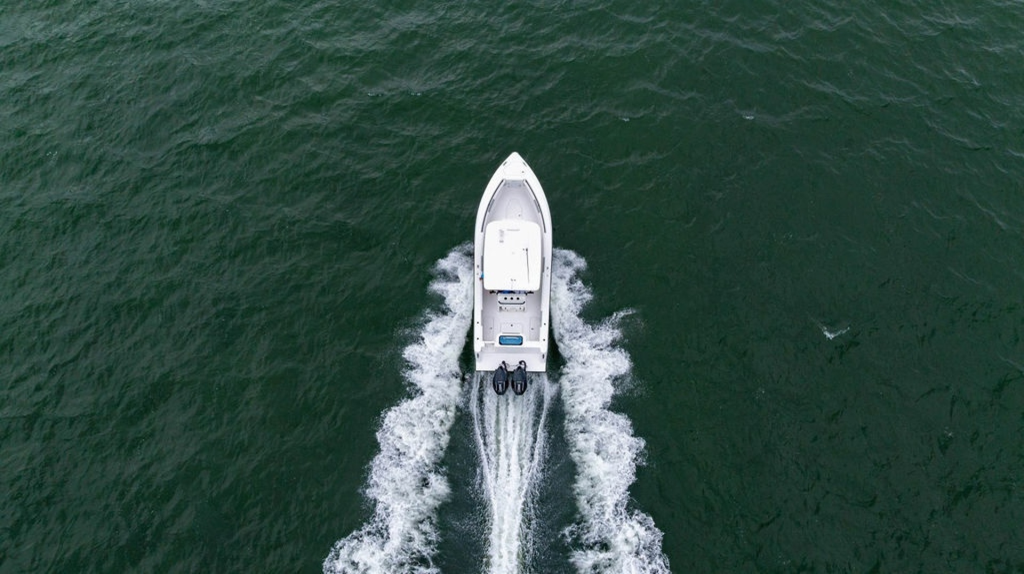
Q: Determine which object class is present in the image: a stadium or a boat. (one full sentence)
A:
The image shows a boat.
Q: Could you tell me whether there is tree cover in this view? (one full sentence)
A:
No, tree cover can't be seen anywhere here.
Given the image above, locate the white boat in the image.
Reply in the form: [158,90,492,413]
[472,151,553,398]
